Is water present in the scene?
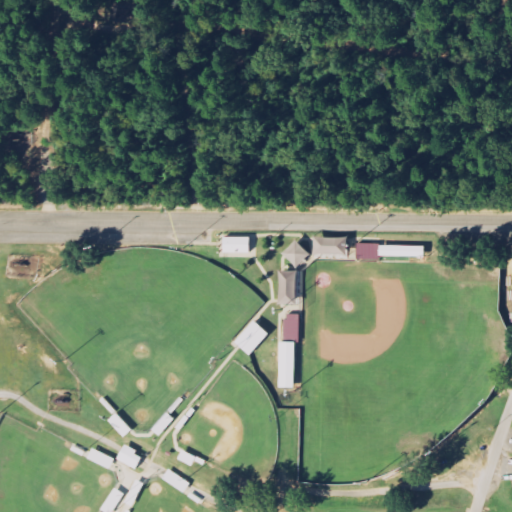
No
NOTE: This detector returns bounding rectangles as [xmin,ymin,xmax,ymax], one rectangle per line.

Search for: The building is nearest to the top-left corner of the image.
[222,236,250,252]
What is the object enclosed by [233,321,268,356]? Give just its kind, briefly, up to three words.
building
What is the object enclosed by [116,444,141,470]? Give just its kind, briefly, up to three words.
building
